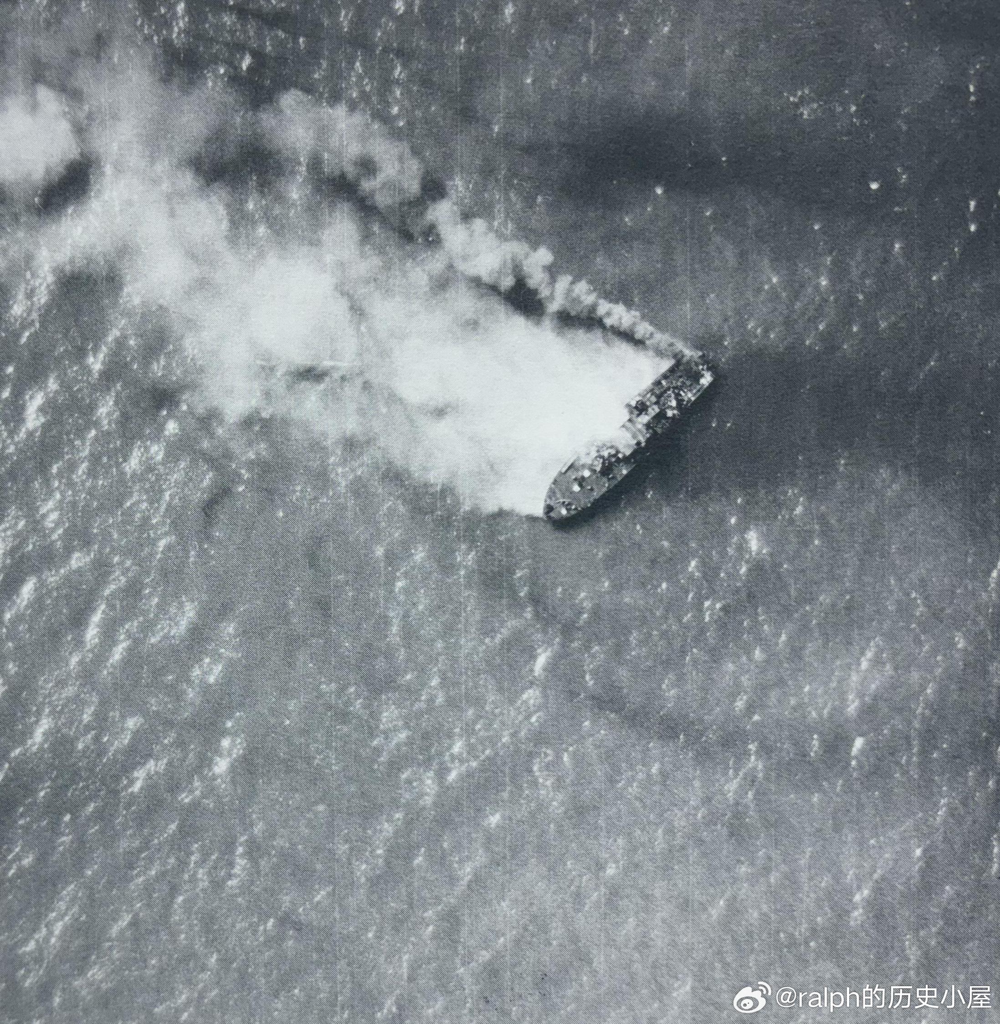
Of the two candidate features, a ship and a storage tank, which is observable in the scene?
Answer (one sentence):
Visible in the photo is a ship.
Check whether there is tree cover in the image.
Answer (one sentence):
No, the scene doesn't show any tree cover.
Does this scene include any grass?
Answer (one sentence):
No, no grass is visible.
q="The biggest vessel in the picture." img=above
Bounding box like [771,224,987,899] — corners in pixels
[544,349,716,525]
